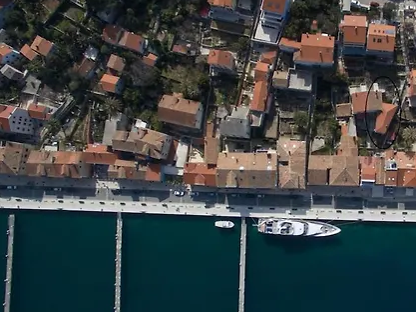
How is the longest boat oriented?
from left to right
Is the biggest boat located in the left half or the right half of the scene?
right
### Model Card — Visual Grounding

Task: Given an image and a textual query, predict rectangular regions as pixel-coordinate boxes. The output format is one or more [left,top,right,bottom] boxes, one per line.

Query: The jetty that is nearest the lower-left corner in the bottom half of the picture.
[3,214,16,312]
